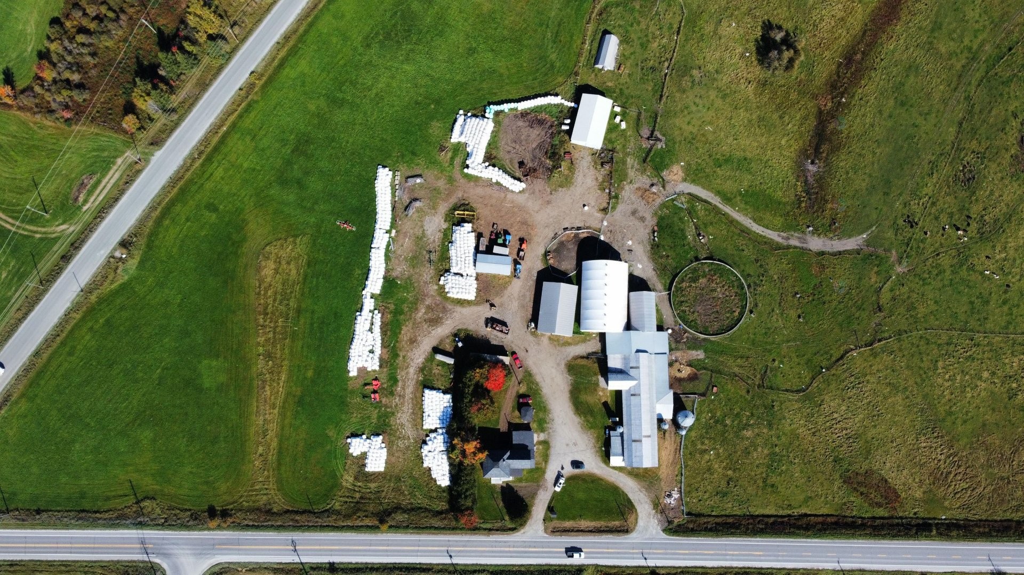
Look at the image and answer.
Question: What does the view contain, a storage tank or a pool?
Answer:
storage tank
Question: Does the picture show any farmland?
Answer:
Yes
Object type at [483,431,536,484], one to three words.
house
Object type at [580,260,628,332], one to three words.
barn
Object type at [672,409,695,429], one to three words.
silo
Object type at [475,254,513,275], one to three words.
shed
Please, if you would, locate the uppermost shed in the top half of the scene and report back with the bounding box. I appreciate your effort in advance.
[596,34,621,73]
